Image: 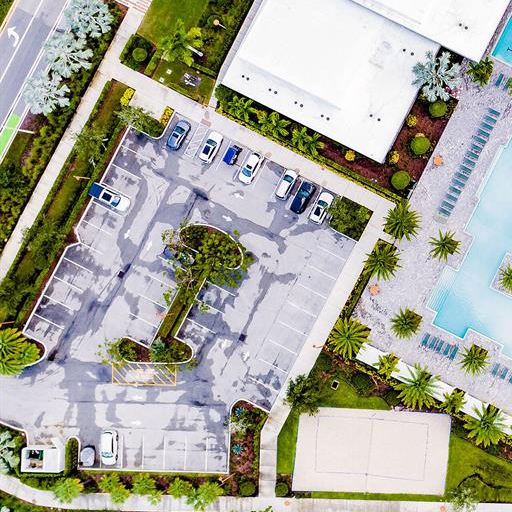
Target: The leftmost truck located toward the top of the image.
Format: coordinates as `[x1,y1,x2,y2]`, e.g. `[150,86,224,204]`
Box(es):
[88,183,132,211]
